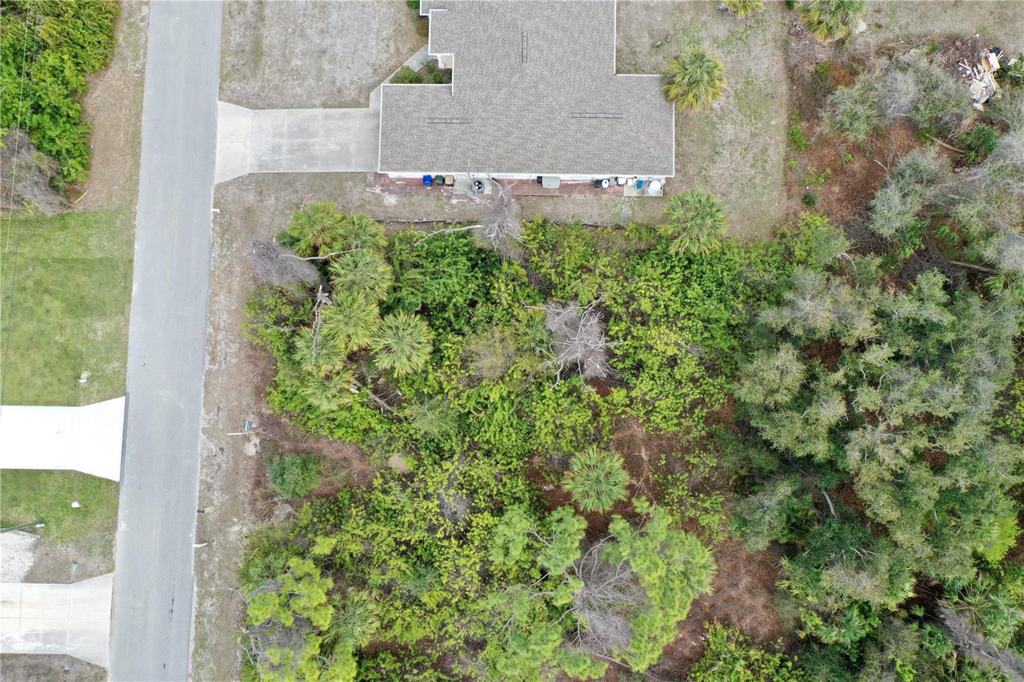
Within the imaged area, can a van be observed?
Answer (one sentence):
No, no van is visible in the view.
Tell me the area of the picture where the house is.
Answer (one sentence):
The house is located in the top region of the scene.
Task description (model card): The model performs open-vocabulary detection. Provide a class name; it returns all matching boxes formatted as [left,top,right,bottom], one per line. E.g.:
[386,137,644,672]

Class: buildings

[377,0,676,184]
